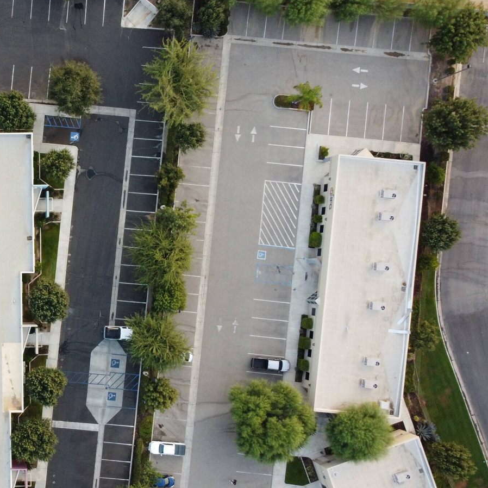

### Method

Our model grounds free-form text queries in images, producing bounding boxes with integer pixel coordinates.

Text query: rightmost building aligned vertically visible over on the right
[302,149,425,418]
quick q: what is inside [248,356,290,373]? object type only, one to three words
vehicle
